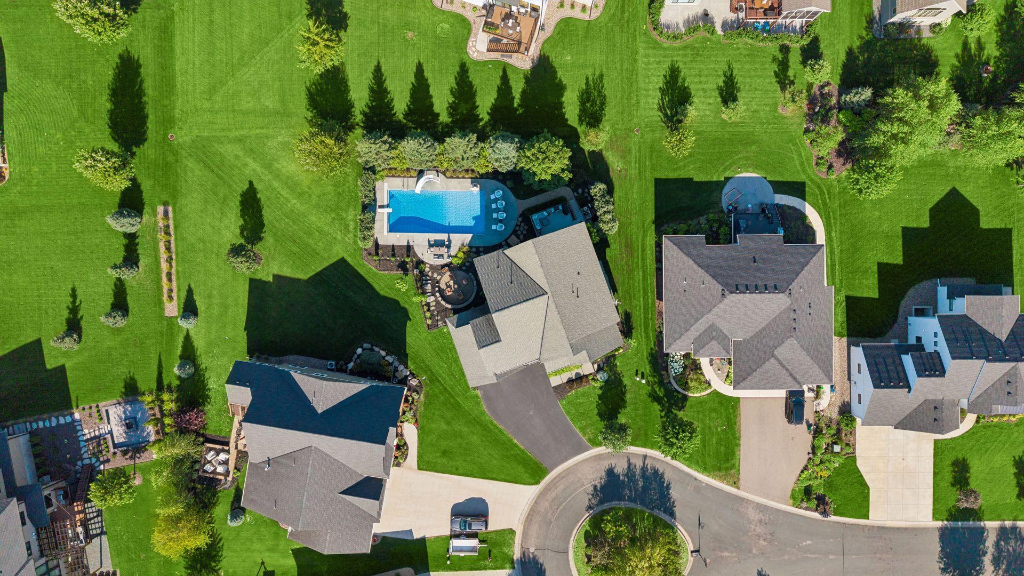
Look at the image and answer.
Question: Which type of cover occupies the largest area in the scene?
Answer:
grass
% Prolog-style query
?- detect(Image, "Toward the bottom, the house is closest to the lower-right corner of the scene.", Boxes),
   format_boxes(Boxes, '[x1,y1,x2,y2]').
[849,284,1024,435]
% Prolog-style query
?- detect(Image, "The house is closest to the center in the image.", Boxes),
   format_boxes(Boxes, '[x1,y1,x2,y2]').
[446,221,623,388]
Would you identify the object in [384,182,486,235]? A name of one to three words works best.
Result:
swimming pool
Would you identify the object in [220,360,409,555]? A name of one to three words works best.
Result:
house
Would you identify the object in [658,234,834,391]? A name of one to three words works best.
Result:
house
